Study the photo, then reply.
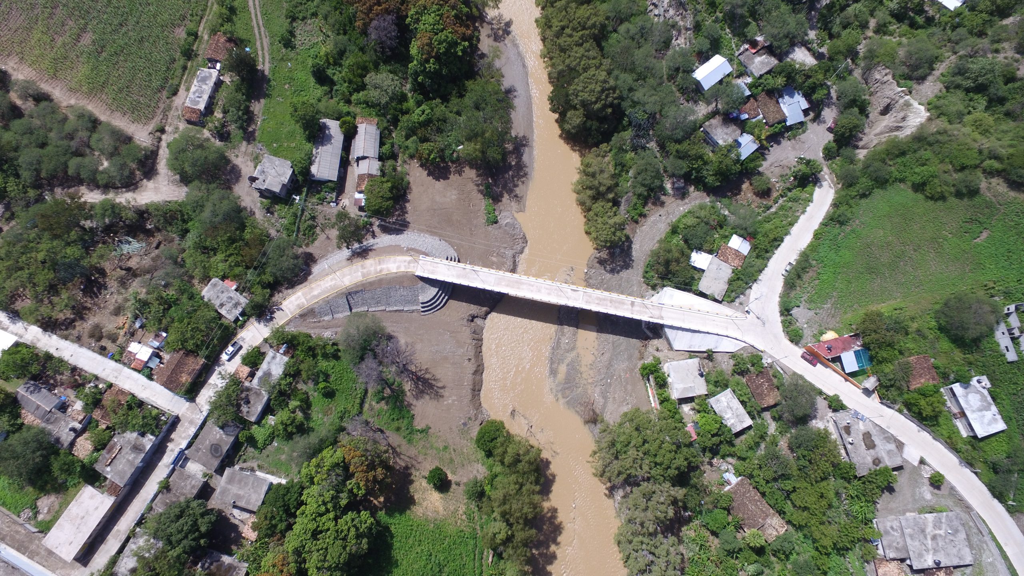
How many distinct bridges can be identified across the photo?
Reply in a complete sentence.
The picture shows just 1 bridge.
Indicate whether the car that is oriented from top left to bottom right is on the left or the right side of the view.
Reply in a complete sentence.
The car that is oriented from top left to bottom right sits on the right side.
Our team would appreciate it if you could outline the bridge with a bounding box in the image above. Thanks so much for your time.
[416,254,764,352]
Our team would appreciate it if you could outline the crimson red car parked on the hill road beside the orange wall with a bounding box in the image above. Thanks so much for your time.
[799,349,823,369]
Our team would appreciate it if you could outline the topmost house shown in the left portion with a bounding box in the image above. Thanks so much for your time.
[204,31,238,68]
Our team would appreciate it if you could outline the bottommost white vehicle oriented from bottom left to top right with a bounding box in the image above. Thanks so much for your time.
[219,339,241,364]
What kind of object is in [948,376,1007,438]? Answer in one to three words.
house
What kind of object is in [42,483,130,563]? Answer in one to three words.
building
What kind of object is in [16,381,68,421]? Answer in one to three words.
shed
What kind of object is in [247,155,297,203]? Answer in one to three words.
house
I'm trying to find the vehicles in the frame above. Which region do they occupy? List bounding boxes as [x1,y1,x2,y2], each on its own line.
[826,112,842,134]
[799,349,823,369]
[219,339,241,364]
[779,257,796,279]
